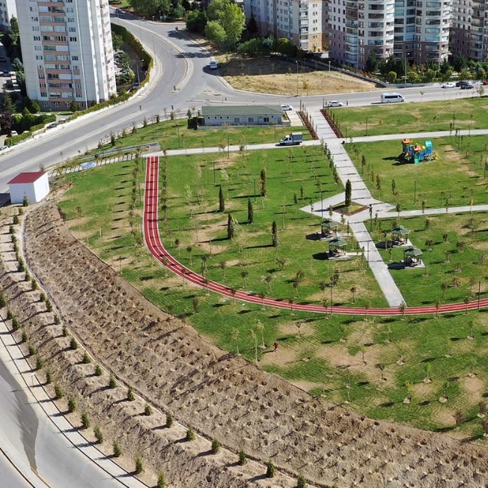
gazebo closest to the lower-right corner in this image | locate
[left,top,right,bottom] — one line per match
[398,245,427,266]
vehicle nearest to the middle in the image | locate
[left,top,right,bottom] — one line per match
[277,131,303,145]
